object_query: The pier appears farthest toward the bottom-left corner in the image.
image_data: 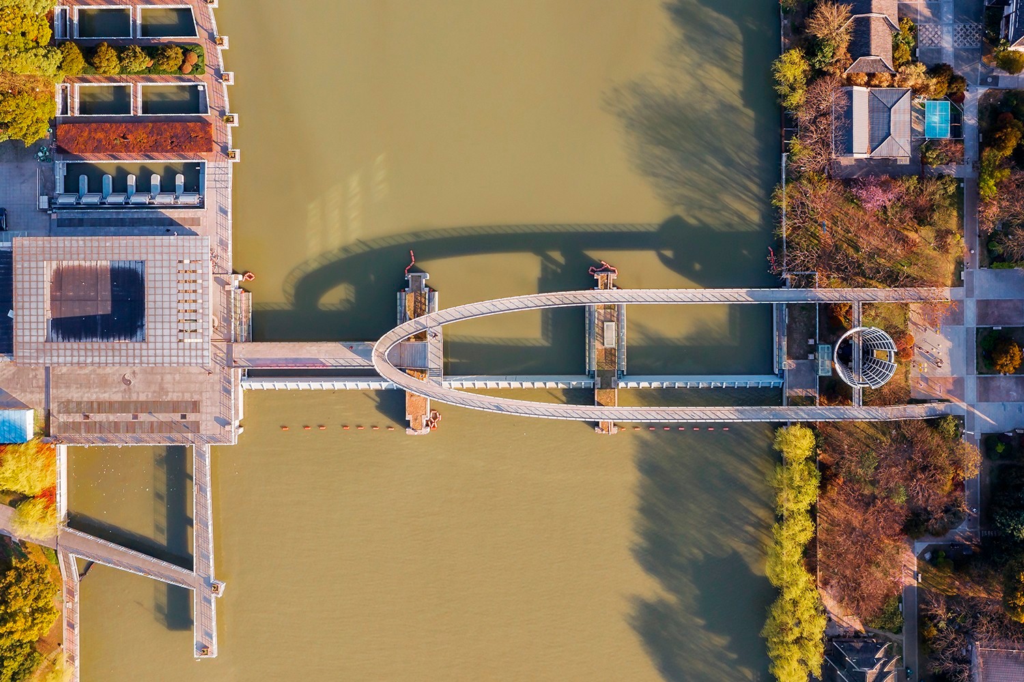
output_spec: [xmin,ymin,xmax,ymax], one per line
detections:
[192,445,222,659]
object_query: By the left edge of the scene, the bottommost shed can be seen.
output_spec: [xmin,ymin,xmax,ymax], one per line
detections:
[0,409,34,443]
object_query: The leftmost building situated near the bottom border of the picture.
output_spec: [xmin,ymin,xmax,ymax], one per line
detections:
[822,643,903,682]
